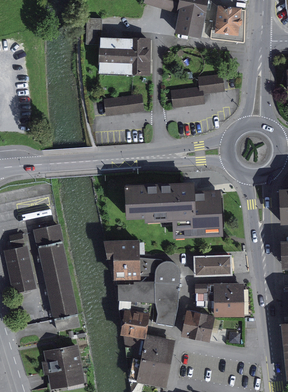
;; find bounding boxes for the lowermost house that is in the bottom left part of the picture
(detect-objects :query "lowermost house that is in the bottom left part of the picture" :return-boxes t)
[42,346,84,392]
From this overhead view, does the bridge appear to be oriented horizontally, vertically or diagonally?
horizontally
